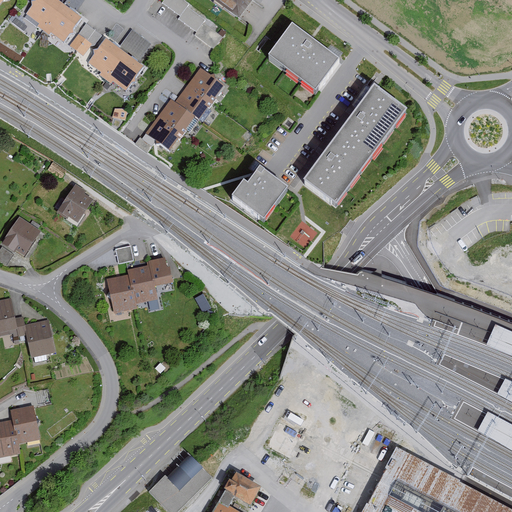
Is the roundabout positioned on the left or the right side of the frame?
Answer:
right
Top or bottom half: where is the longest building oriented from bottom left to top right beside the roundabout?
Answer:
top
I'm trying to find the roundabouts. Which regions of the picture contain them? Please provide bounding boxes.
[445,90,512,172]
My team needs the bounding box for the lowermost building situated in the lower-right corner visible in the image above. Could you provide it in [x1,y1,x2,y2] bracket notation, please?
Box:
[362,446,512,512]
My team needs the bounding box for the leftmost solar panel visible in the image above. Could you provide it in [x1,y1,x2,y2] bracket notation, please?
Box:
[112,62,136,86]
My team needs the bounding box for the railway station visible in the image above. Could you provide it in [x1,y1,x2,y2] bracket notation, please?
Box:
[434,313,512,500]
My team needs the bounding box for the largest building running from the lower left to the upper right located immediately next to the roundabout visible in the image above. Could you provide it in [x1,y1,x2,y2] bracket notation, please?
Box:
[305,82,408,210]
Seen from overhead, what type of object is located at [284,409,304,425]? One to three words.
vehicle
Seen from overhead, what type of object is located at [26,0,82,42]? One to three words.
house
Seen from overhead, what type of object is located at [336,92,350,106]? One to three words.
vehicle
